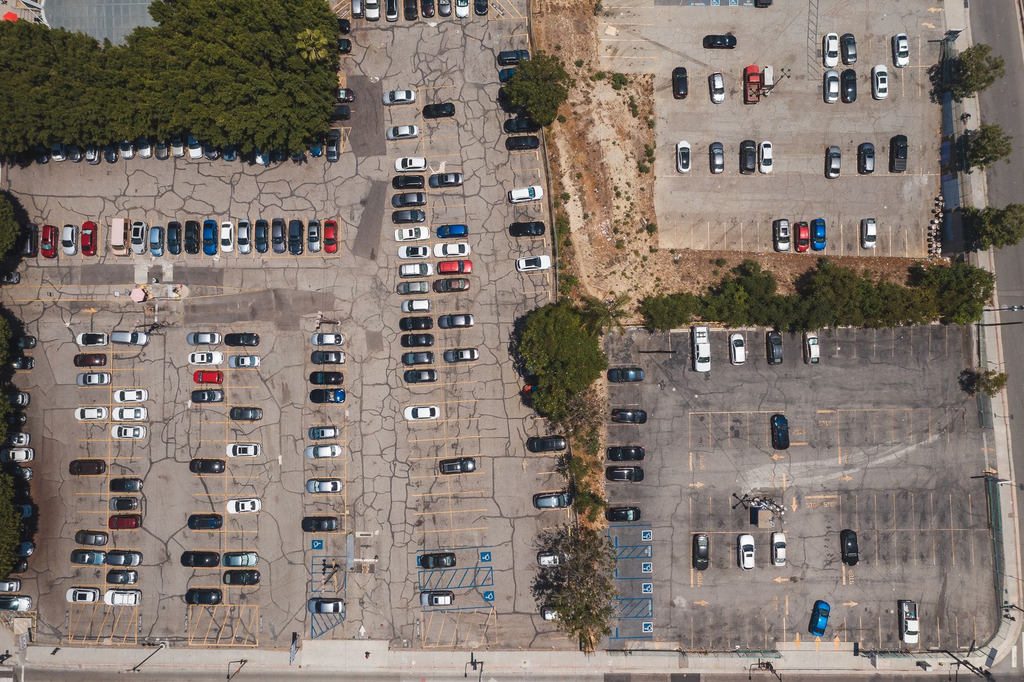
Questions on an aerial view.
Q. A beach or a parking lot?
parking lot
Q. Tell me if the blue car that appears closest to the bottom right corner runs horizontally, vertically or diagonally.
vertically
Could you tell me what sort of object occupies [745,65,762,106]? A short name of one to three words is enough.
vehicle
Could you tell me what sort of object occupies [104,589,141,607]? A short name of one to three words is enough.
car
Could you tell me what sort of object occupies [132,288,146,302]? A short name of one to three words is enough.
umbrella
